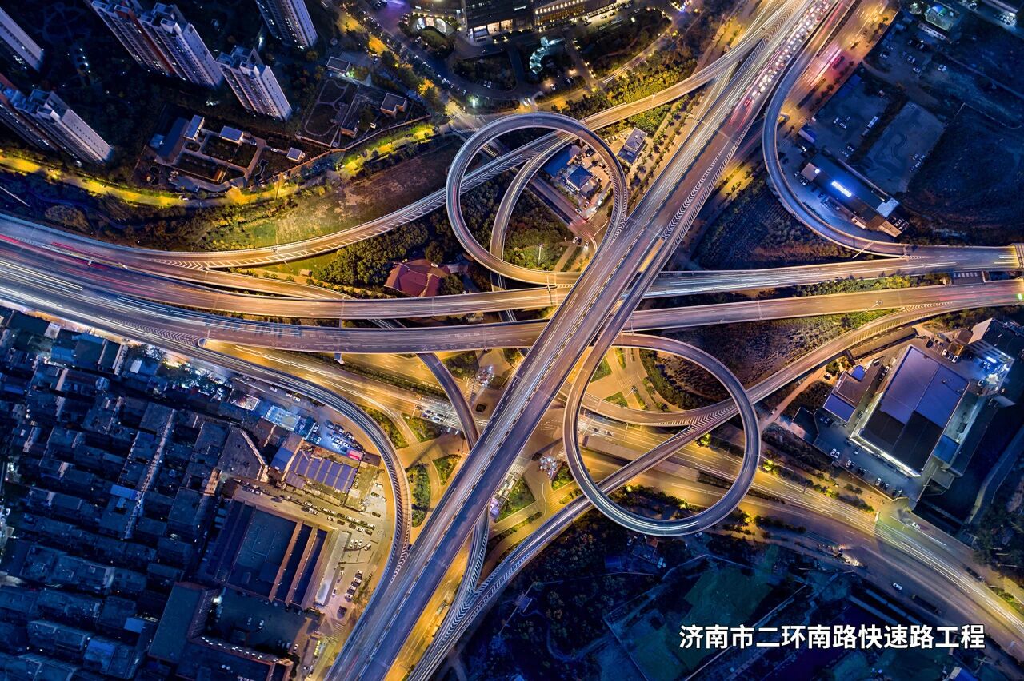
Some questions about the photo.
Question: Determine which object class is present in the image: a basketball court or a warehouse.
warehouse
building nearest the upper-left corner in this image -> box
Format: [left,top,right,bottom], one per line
[0,3,49,72]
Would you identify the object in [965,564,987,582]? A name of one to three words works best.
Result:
vehicle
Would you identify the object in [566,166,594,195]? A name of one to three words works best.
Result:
house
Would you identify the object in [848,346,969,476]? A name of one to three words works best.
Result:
warehouse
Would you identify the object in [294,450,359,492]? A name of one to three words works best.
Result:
building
